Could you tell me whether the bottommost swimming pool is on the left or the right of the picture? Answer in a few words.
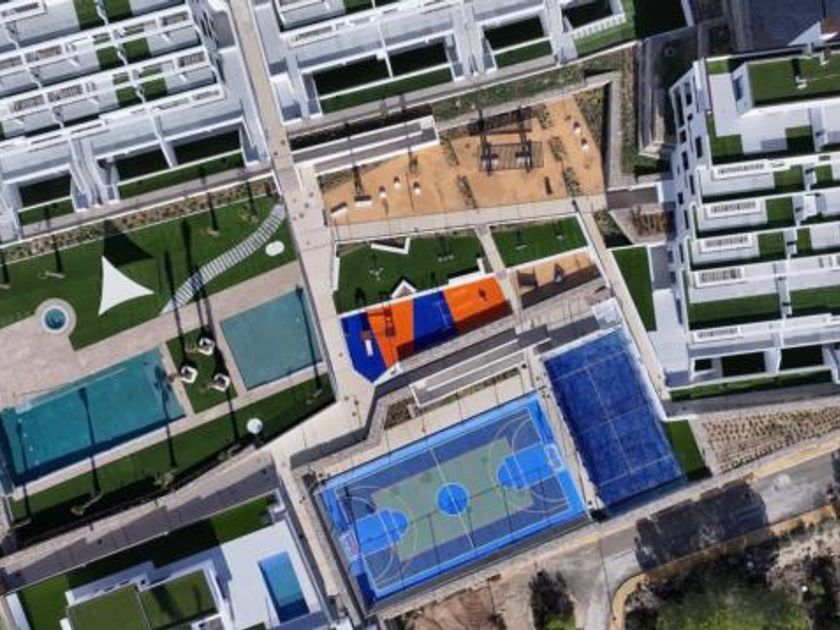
left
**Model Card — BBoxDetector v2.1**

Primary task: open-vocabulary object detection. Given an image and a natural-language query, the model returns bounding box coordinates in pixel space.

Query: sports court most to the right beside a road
[545,329,690,514]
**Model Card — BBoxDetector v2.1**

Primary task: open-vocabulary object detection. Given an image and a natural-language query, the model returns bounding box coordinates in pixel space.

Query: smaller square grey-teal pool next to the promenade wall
[219,285,325,392]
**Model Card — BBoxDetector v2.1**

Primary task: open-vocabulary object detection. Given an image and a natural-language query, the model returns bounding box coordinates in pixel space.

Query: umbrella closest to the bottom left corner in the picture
[245,417,261,433]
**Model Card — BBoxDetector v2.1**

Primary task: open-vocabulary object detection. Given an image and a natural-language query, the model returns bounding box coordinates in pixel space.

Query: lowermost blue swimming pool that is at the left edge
[0,345,187,490]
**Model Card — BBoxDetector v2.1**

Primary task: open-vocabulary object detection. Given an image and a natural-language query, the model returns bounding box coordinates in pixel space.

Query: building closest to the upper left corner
[0,0,249,230]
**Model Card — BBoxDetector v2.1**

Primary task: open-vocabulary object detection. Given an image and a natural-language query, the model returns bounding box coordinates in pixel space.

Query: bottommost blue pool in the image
[257,548,312,622]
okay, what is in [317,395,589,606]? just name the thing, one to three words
sports court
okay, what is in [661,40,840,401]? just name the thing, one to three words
building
